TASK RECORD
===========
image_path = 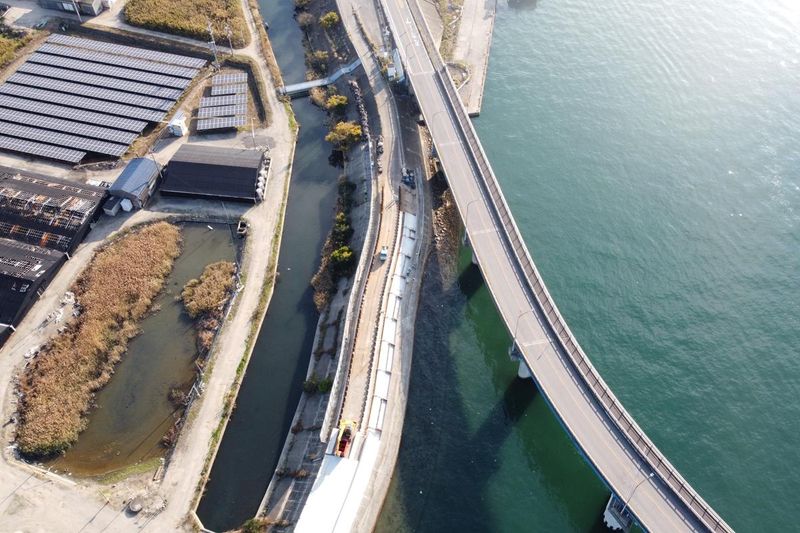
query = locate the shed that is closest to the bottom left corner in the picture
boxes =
[0,240,66,336]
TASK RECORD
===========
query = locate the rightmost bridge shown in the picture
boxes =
[377,0,741,533]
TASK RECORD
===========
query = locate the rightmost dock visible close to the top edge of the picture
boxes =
[452,0,498,122]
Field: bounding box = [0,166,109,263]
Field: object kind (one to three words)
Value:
shed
